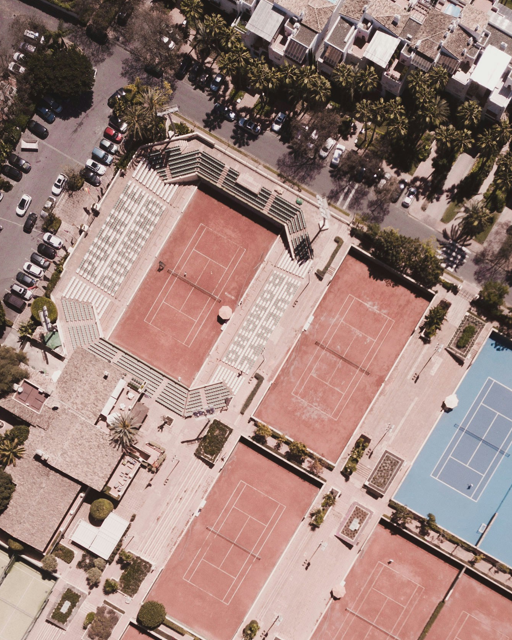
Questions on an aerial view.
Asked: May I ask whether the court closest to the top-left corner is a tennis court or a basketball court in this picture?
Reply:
tennis court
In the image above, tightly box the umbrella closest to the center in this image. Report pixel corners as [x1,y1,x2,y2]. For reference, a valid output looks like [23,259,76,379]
[219,306,232,319]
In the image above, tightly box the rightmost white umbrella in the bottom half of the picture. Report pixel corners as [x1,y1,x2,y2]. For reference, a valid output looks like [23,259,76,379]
[445,394,458,409]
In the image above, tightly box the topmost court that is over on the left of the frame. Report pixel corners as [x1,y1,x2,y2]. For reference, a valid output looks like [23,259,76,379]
[108,181,281,389]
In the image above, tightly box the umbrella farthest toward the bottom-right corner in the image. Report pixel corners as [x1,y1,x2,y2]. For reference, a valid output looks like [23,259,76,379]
[332,585,345,598]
